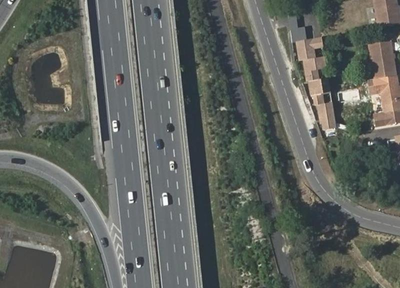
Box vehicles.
[162,192,168,206]
[169,160,175,172]
[116,74,122,85]
[12,158,24,164]
[154,8,160,20]
[143,6,149,16]
[366,138,378,145]
[158,76,166,89]
[336,124,348,130]
[101,236,108,248]
[310,127,316,138]
[112,120,118,132]
[136,256,142,268]
[304,159,312,172]
[128,191,134,204]
[75,192,84,203]
[126,262,132,274]
[156,138,162,150]
[166,122,172,133]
